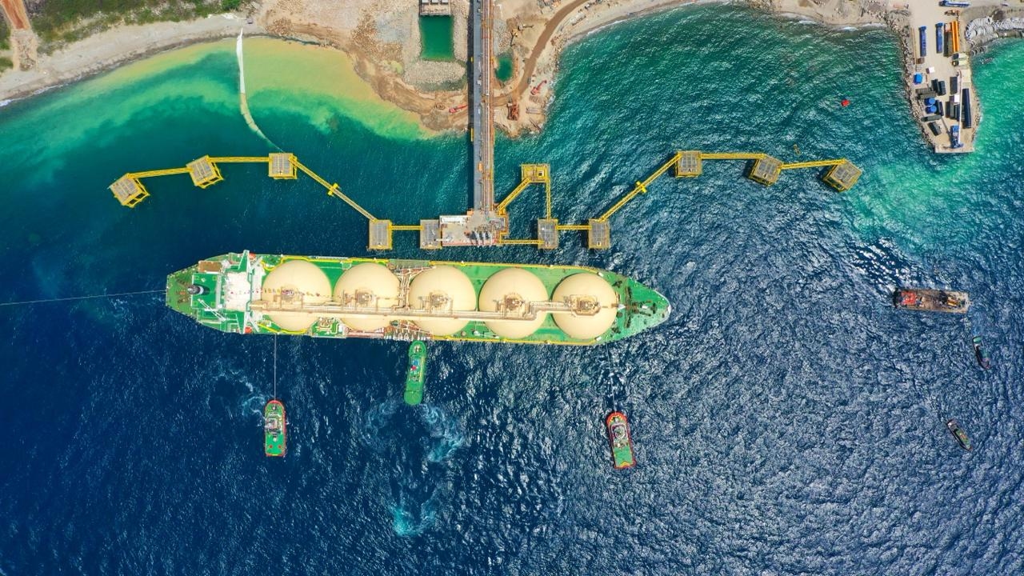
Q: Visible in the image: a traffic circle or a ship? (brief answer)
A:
ship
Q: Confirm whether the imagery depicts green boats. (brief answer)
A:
Yes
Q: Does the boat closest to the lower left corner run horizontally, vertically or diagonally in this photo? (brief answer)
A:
vertically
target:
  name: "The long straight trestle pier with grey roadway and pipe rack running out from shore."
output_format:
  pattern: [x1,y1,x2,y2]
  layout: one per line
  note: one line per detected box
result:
[471,0,495,210]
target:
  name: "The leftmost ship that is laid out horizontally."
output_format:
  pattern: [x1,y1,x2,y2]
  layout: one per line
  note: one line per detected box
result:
[166,250,671,345]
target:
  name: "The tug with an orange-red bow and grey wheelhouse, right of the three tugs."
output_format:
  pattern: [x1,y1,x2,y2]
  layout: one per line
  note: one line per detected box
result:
[607,411,635,471]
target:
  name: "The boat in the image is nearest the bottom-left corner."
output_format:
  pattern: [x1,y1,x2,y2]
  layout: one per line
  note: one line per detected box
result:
[264,399,288,457]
